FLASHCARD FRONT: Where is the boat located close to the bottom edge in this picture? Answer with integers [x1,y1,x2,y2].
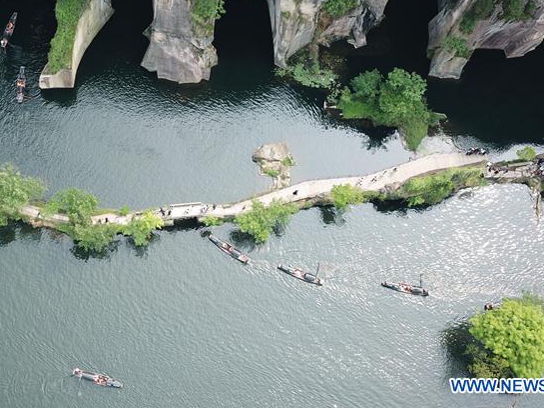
[71,368,123,392]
